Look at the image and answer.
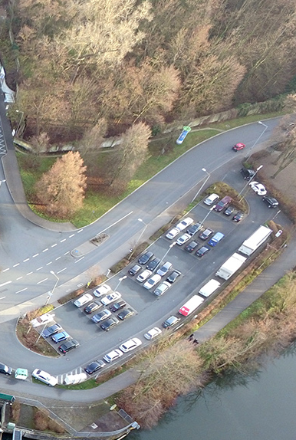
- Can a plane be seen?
No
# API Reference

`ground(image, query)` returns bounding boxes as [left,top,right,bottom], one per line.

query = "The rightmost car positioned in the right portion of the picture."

[260,195,282,209]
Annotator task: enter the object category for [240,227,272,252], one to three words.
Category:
truck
